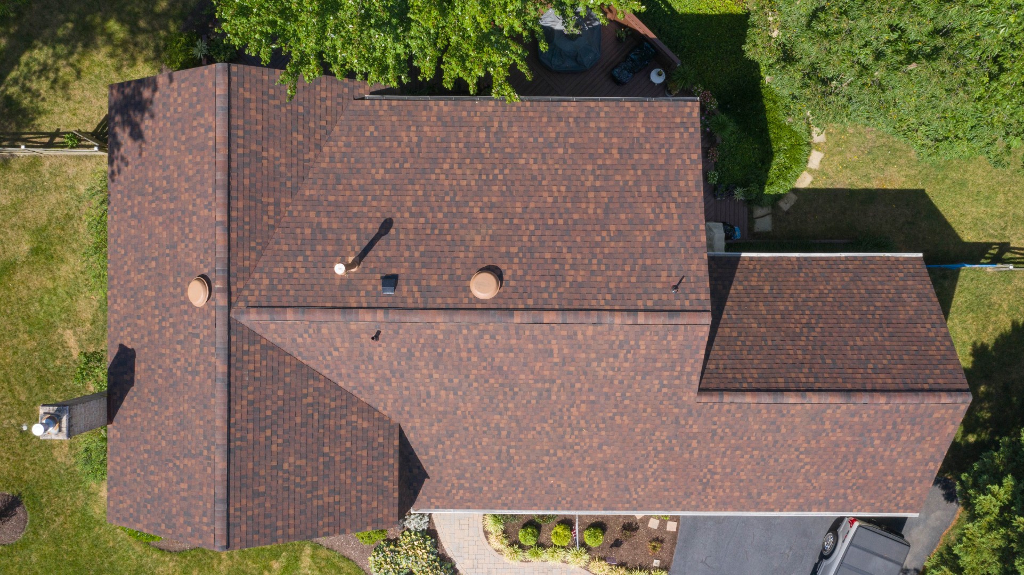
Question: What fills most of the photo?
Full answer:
The scene is dominated by buildings.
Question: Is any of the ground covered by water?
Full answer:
No, the scene doesn't show any water.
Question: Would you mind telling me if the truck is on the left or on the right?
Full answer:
The truck is on the right side of the image.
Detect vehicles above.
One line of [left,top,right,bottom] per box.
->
[809,517,911,575]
